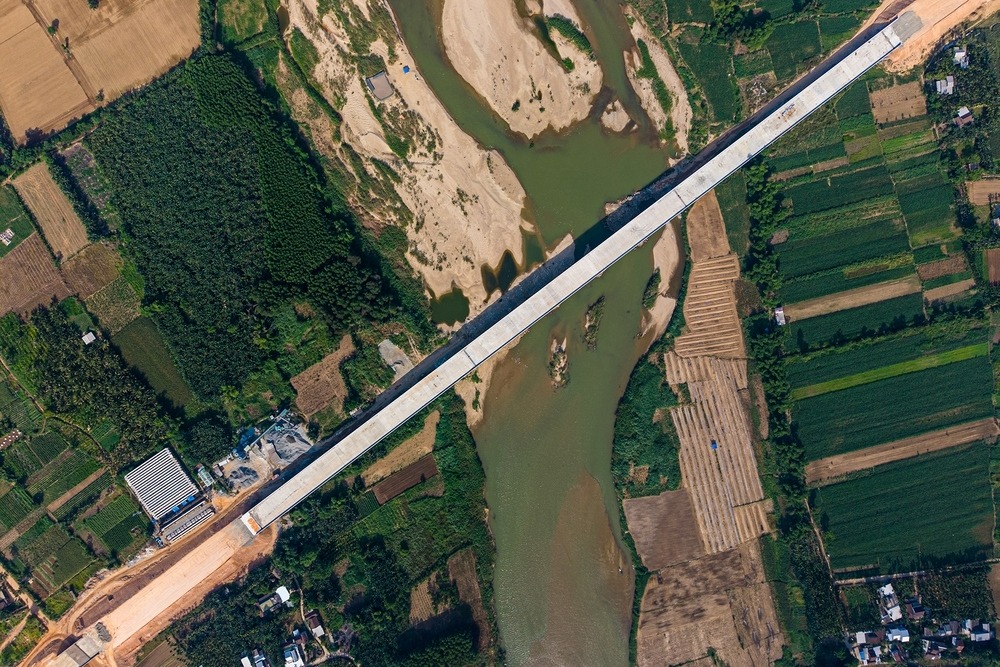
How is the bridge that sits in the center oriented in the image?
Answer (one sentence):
From this overhead view, the bridge that sits in the center appears to run on a diagonal.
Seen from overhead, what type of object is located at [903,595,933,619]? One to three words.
house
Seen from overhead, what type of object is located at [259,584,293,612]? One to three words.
house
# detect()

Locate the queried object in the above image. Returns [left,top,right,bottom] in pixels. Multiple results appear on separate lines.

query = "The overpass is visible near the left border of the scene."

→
[45,633,102,667]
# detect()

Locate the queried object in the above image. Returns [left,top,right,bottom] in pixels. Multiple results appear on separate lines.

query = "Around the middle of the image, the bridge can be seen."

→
[236,14,910,537]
